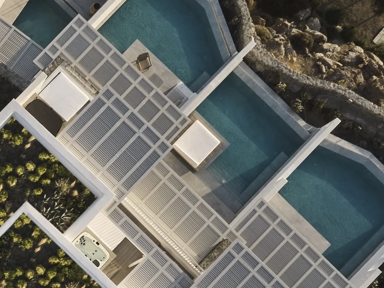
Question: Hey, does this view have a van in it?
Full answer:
No, the scene contains no van.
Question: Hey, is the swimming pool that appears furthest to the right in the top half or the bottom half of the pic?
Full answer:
The swimming pool that appears furthest to the right sits in the bottom half of the picture.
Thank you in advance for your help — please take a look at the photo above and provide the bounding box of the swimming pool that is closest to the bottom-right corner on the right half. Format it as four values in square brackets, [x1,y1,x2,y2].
[274,133,384,282]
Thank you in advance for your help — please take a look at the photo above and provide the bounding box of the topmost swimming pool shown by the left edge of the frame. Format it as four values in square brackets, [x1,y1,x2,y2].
[12,0,78,49]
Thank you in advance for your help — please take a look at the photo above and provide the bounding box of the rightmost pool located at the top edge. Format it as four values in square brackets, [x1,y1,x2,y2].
[102,0,234,92]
